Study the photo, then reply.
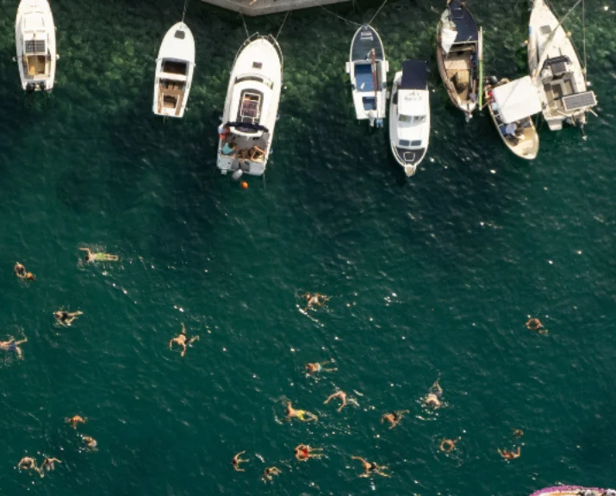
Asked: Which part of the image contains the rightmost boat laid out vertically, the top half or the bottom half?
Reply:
top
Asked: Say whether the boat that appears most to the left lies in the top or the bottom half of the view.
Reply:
top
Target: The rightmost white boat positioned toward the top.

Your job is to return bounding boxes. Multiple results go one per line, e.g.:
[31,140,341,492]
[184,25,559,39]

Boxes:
[527,0,598,139]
